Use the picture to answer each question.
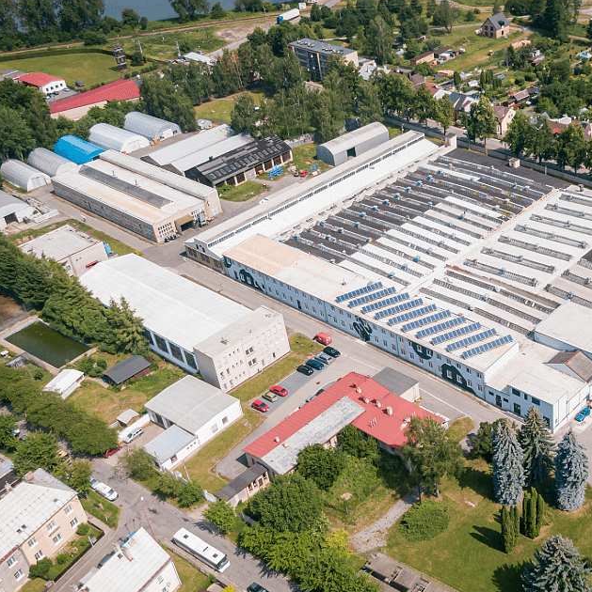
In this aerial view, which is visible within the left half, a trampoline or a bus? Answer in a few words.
bus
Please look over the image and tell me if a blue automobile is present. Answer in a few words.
Yes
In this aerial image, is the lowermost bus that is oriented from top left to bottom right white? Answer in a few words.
Yes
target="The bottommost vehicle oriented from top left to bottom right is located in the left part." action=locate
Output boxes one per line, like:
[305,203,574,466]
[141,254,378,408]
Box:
[168,524,234,577]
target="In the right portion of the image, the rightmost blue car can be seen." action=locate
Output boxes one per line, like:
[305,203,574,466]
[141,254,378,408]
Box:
[572,406,592,423]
